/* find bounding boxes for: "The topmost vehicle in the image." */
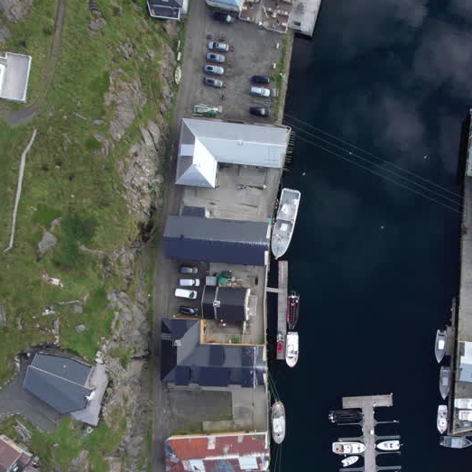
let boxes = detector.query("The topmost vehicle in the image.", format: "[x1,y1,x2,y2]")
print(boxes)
[211,10,235,23]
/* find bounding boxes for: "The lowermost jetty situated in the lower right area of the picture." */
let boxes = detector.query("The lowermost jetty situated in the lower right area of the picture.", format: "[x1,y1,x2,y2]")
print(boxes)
[336,394,403,472]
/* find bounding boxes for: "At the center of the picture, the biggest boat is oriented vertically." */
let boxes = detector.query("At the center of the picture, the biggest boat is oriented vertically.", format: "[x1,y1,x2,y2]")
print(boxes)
[273,186,299,257]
